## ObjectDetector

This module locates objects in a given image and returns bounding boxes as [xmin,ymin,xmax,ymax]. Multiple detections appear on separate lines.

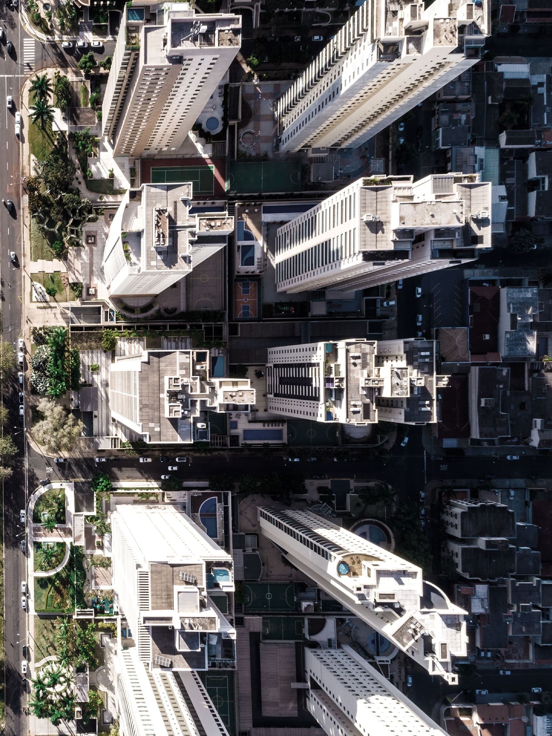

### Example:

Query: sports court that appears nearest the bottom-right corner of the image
[262,618,304,640]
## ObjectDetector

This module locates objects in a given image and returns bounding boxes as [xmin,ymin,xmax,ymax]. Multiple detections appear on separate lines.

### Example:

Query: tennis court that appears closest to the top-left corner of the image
[142,158,226,201]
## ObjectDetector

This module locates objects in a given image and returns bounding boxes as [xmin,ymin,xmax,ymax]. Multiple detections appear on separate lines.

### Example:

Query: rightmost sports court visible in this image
[287,420,339,446]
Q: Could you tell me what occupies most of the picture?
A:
buildings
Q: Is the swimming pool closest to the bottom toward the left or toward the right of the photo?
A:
right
